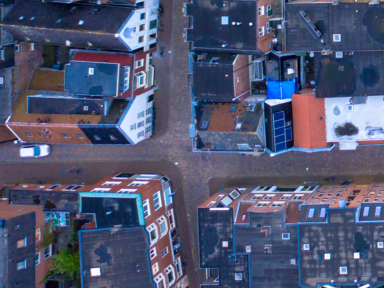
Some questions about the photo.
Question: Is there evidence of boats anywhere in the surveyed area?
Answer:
No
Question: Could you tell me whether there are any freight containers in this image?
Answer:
No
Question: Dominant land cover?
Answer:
buildings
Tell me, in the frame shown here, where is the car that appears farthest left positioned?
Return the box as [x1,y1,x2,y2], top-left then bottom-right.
[19,144,50,158]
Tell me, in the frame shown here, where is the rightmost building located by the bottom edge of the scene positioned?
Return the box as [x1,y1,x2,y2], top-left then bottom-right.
[298,182,384,288]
